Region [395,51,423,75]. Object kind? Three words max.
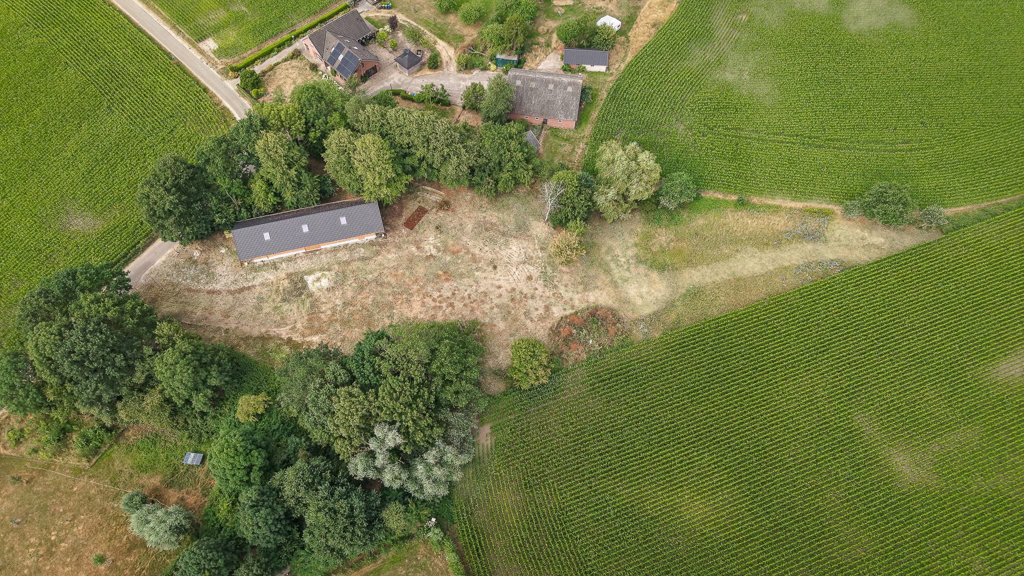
building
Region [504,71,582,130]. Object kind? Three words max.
barn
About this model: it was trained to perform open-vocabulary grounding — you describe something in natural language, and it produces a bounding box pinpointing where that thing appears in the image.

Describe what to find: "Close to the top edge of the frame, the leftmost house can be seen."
[300,10,380,87]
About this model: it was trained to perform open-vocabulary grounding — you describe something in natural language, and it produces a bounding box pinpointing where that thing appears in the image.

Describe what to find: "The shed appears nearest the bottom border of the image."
[232,194,385,268]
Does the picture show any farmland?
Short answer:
Yes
